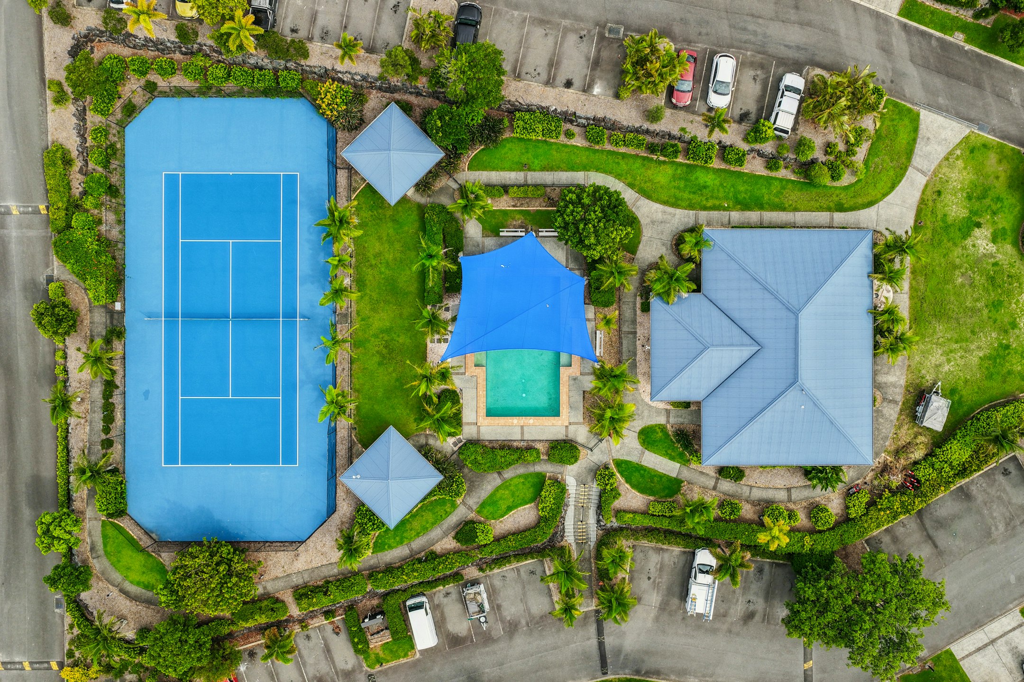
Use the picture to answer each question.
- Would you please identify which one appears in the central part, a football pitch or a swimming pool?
swimming pool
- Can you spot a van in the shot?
Yes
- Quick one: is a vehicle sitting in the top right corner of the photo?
Yes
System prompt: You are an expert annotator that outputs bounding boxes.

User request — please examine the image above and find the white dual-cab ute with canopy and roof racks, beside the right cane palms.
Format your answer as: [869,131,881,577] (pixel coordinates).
[768,69,806,143]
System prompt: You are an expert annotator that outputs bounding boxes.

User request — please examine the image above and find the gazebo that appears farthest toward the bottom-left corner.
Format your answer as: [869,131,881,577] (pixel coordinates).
[339,424,445,530]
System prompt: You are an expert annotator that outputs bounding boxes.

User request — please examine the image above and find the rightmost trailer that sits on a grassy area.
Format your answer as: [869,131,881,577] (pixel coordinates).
[918,382,952,432]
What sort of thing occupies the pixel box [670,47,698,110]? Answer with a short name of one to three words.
car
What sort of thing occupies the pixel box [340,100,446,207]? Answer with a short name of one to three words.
gazebo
